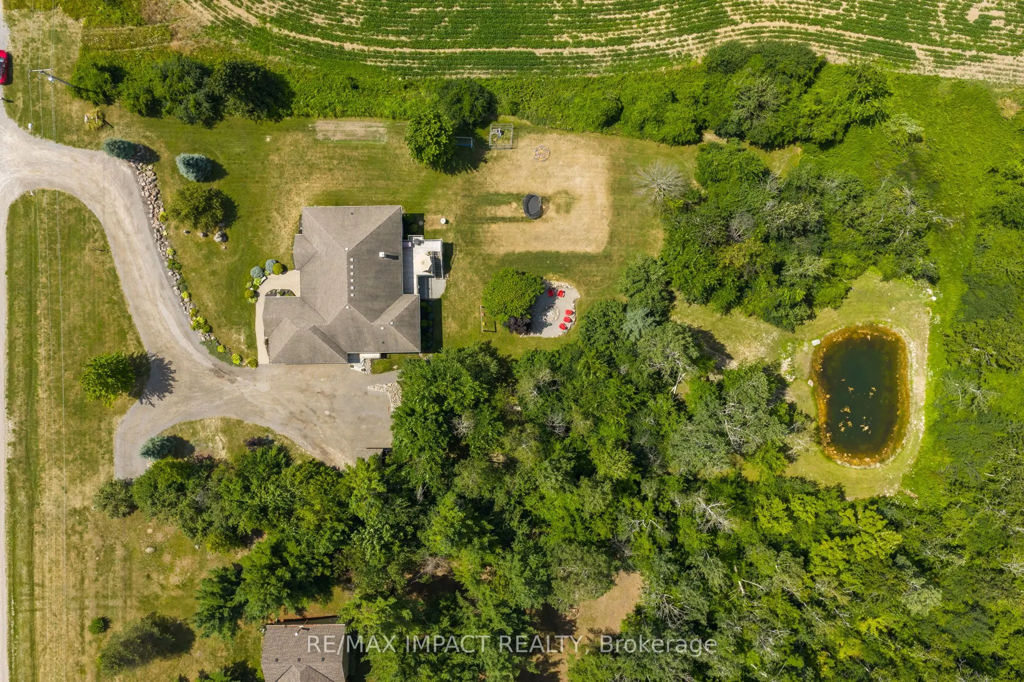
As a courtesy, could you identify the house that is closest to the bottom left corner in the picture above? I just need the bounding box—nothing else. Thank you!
[262,617,348,682]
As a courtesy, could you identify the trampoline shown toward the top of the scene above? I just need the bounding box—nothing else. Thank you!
[523,190,543,219]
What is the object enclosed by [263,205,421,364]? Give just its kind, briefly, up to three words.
house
